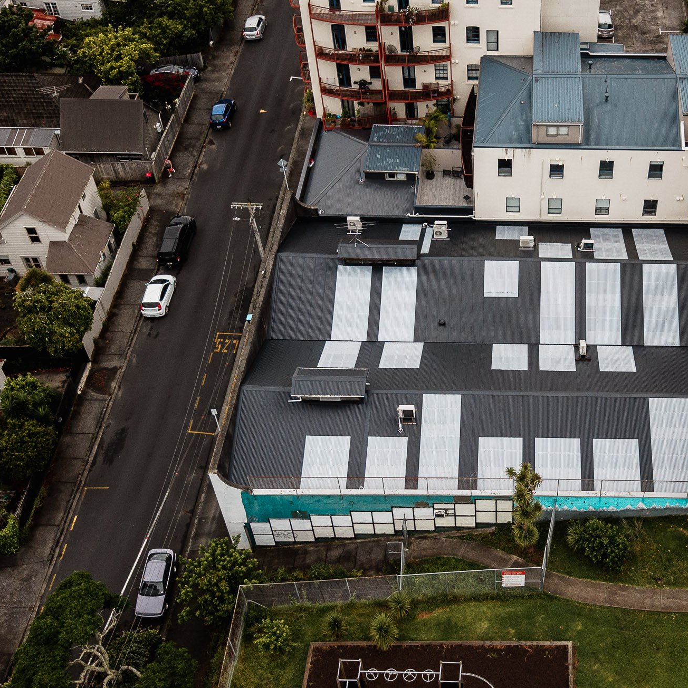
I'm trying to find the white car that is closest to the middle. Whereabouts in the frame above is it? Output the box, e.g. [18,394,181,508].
[139,278,178,322]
